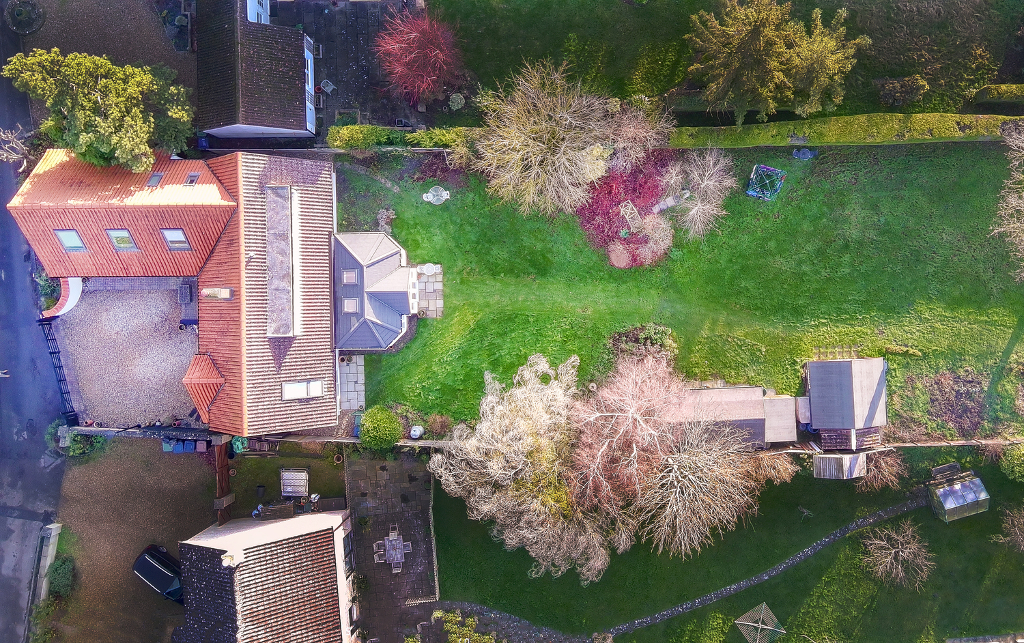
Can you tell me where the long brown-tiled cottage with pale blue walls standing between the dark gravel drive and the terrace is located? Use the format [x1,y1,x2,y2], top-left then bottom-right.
[195,0,321,144]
